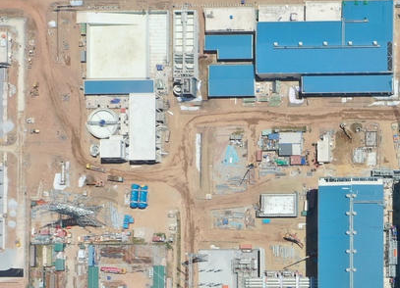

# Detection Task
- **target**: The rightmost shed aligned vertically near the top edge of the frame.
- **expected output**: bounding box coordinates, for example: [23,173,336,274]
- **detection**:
[149,13,170,64]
